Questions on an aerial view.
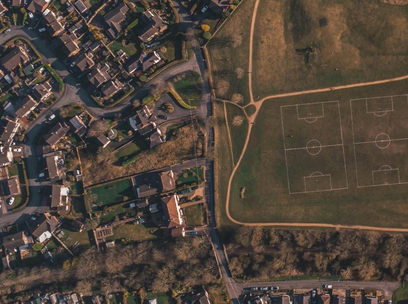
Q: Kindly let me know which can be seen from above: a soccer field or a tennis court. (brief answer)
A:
soccer field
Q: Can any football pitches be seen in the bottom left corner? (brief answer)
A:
No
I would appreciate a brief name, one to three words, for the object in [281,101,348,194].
soccer field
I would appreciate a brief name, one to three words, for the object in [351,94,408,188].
soccer field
